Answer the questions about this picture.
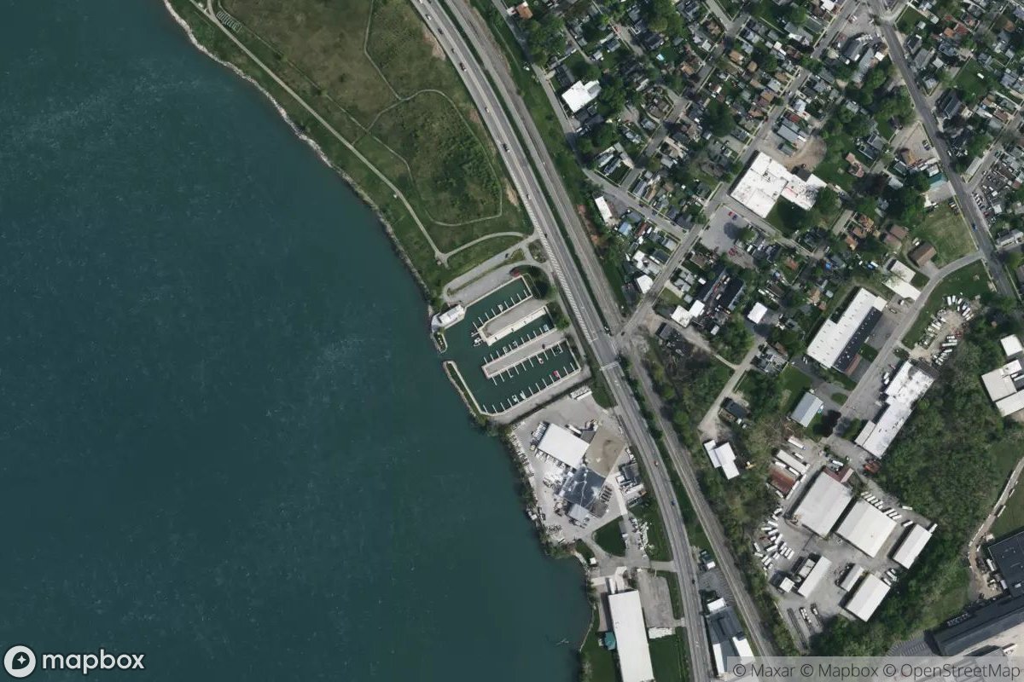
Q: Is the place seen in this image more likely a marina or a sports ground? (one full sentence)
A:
The area seen from above is a marina.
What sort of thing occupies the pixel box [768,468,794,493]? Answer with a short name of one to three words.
shed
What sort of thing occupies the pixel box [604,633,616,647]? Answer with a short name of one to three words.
gazebo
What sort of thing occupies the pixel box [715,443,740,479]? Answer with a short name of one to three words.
house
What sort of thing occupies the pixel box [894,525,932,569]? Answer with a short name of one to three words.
building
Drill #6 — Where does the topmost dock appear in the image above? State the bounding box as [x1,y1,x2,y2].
[471,290,549,345]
